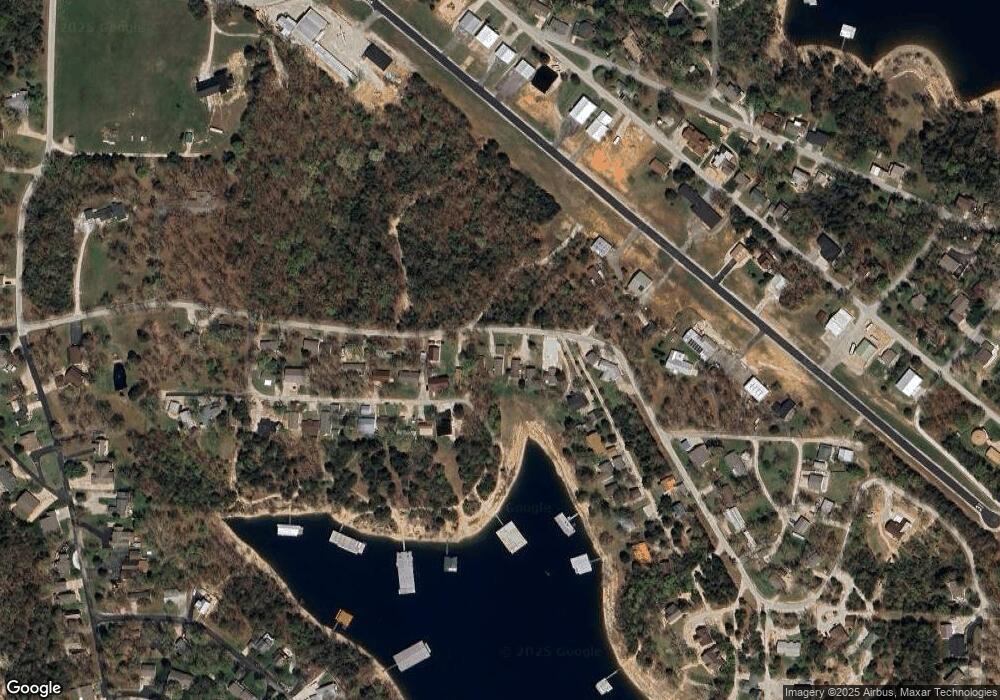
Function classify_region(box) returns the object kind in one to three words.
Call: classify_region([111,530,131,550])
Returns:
house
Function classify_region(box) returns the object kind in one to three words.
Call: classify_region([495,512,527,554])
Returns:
pier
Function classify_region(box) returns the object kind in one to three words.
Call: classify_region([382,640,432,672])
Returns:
pier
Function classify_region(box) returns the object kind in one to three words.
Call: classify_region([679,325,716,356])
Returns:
building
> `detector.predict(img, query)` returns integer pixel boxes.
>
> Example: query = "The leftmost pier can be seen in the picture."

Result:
[277,509,305,537]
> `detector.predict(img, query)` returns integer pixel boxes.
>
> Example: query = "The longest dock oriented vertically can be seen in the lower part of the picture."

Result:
[396,537,414,595]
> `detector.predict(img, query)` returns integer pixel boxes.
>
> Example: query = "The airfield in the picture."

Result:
[354,0,1000,531]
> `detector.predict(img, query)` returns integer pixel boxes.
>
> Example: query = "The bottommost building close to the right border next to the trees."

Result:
[945,672,970,696]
